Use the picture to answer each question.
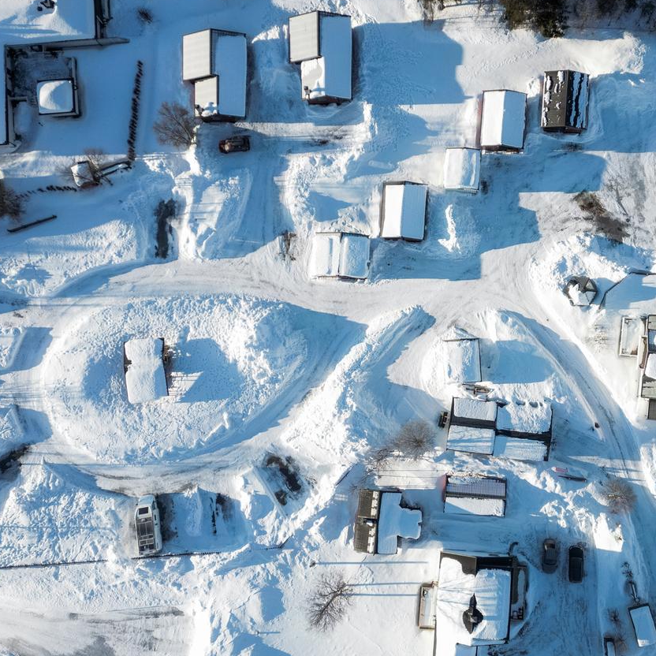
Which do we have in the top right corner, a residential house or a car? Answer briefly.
residential house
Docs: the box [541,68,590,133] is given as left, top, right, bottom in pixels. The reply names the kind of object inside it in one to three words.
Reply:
house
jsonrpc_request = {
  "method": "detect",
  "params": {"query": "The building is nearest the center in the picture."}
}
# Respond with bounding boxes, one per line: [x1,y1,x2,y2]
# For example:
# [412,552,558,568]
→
[311,233,370,279]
